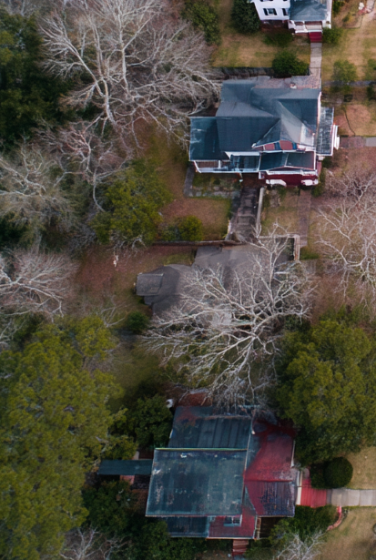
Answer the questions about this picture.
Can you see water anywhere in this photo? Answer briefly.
No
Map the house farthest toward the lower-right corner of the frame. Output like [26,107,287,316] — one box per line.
[96,393,328,560]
